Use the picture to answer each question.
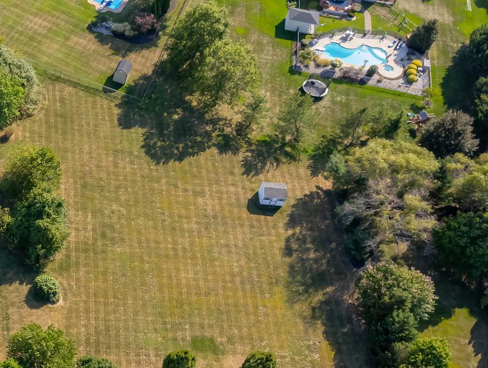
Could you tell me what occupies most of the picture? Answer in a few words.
grass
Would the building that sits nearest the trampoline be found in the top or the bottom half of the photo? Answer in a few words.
top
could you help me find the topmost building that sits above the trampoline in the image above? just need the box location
[286,7,327,39]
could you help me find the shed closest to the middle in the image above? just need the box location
[259,185,292,207]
